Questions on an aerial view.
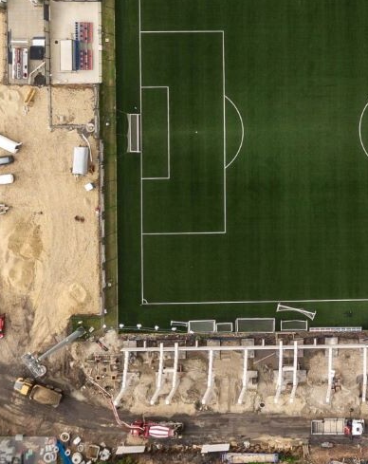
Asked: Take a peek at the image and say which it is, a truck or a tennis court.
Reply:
truck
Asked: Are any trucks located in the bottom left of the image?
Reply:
Yes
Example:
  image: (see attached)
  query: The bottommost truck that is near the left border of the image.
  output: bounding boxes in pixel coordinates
[11,376,67,408]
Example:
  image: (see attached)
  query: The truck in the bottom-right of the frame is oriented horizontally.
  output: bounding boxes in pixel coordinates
[310,413,365,437]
